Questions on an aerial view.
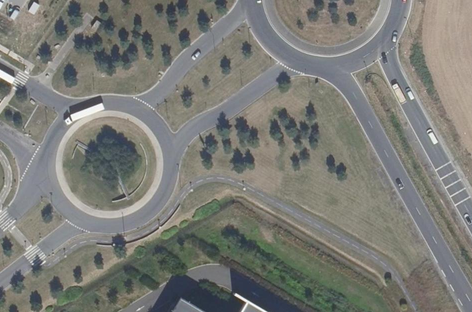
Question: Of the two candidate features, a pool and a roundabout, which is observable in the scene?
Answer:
roundabout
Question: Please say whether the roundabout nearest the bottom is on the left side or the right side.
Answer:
left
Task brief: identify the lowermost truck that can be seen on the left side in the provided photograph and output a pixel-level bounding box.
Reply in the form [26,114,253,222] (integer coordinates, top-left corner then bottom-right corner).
[64,101,104,123]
